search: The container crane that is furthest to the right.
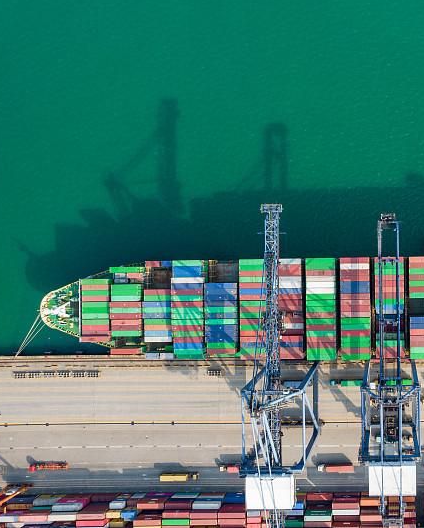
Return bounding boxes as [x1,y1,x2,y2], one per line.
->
[357,209,424,528]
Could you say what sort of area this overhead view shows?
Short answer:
port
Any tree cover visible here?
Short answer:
No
